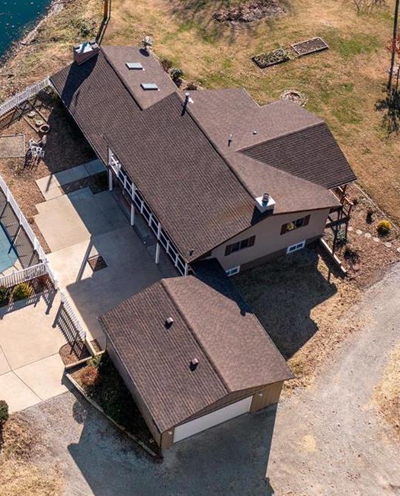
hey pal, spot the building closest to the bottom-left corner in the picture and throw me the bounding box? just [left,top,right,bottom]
[99,260,298,447]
